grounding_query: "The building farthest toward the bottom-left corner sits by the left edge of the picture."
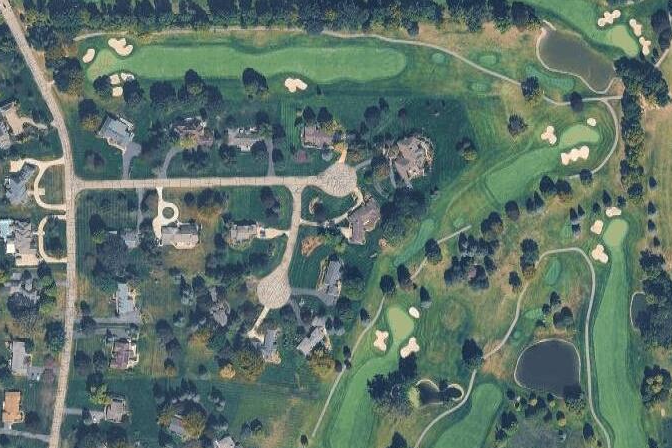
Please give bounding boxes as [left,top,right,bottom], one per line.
[2,389,22,422]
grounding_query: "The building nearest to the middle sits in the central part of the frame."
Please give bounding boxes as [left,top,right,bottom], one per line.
[352,196,379,242]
